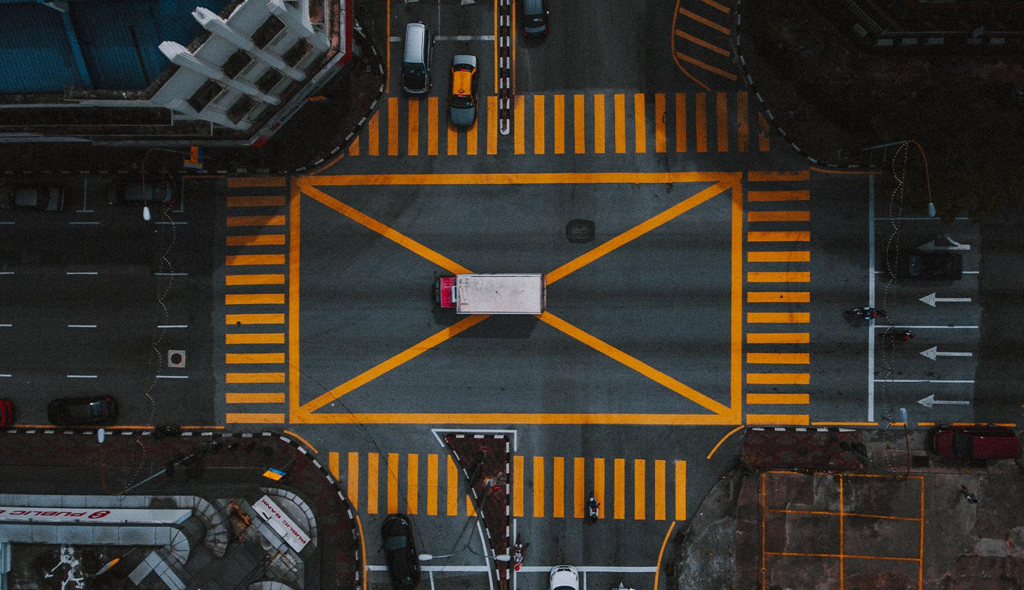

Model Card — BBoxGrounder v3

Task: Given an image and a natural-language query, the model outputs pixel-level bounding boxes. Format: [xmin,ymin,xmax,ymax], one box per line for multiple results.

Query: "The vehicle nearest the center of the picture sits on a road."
[432,271,550,313]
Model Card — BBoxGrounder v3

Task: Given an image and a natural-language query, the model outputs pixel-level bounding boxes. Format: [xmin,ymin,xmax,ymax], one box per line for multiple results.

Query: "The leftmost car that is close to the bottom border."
[381,513,421,590]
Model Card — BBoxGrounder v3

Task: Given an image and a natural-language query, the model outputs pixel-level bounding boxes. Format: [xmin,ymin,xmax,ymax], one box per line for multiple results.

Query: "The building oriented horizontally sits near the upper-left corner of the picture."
[0,0,365,146]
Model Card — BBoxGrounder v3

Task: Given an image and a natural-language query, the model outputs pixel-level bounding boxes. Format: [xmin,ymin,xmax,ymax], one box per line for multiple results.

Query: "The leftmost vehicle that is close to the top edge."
[398,23,433,94]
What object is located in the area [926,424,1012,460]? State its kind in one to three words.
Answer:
vehicle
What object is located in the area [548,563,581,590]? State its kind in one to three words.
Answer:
car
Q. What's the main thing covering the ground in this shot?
paved ground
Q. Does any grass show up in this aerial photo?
No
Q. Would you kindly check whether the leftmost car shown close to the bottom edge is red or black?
black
